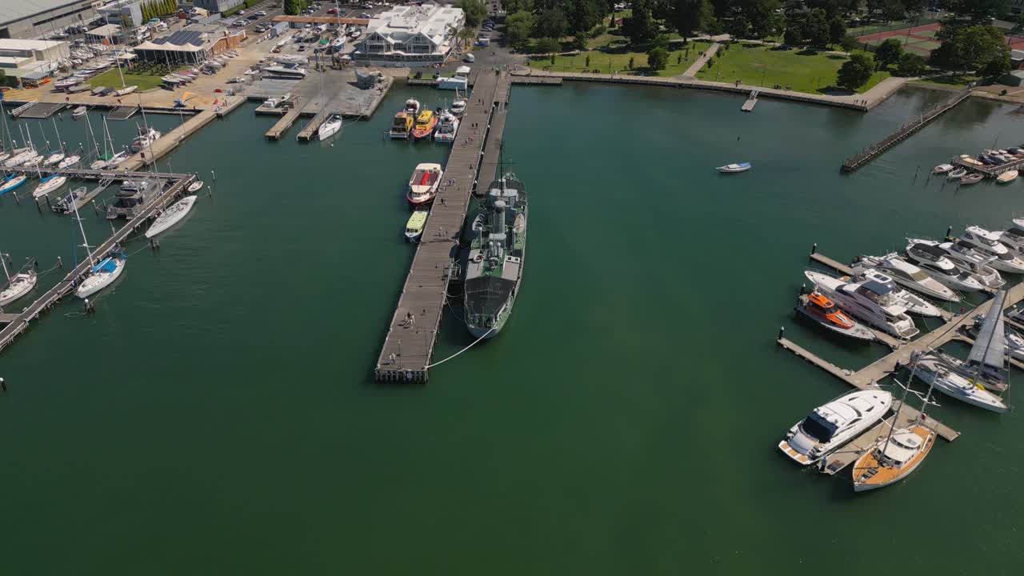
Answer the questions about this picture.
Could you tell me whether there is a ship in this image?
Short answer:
Yes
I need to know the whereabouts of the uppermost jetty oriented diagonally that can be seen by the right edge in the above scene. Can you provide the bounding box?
[842,87,973,172]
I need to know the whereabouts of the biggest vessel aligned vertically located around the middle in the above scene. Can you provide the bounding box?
[460,136,529,345]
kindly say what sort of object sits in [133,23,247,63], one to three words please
building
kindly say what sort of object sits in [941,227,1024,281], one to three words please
boat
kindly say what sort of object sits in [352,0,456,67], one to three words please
building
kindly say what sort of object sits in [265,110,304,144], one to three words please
pier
